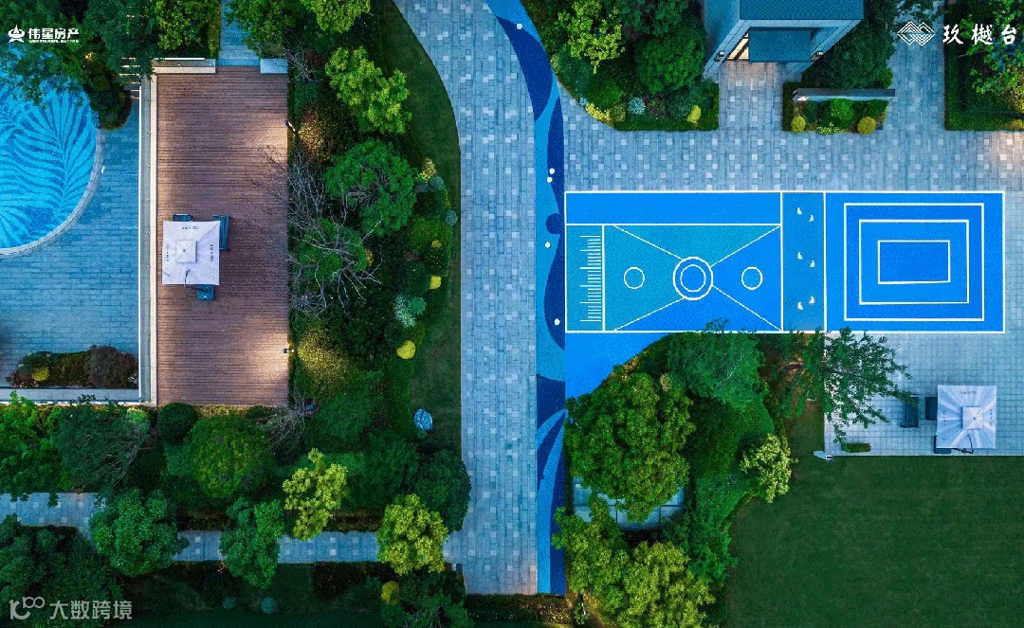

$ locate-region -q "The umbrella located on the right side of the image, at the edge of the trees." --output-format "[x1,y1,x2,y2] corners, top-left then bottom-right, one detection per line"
[934,386,996,453]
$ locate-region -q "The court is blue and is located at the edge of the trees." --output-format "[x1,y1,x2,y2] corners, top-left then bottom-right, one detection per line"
[565,191,1004,406]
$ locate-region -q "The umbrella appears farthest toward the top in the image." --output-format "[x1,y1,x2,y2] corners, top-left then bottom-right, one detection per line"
[161,223,222,300]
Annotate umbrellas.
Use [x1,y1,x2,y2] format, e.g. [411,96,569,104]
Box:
[934,386,996,453]
[161,223,222,300]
